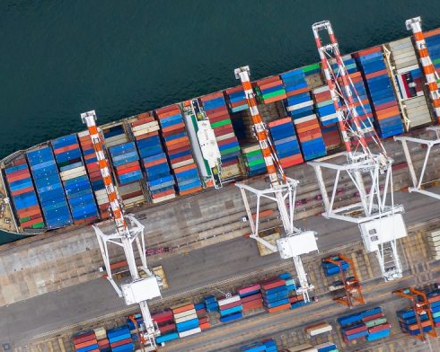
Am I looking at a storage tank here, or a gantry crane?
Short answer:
gantry crane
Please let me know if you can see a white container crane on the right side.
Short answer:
Yes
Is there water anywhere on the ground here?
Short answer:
Yes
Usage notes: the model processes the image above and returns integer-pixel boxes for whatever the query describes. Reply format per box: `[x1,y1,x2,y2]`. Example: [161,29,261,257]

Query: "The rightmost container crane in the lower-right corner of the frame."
[391,286,440,345]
